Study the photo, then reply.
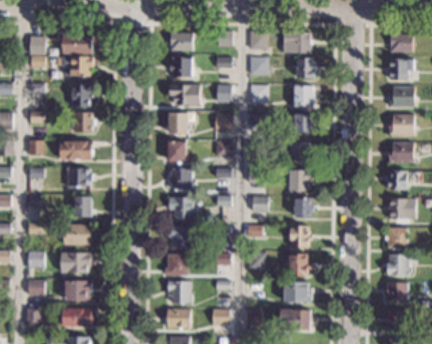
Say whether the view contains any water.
No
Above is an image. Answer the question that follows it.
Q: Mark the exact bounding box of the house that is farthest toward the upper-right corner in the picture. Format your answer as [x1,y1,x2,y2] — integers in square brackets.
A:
[390,34,416,54]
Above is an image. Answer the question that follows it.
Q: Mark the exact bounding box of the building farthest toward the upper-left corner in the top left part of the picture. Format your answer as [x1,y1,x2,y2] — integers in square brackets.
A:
[30,36,48,55]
